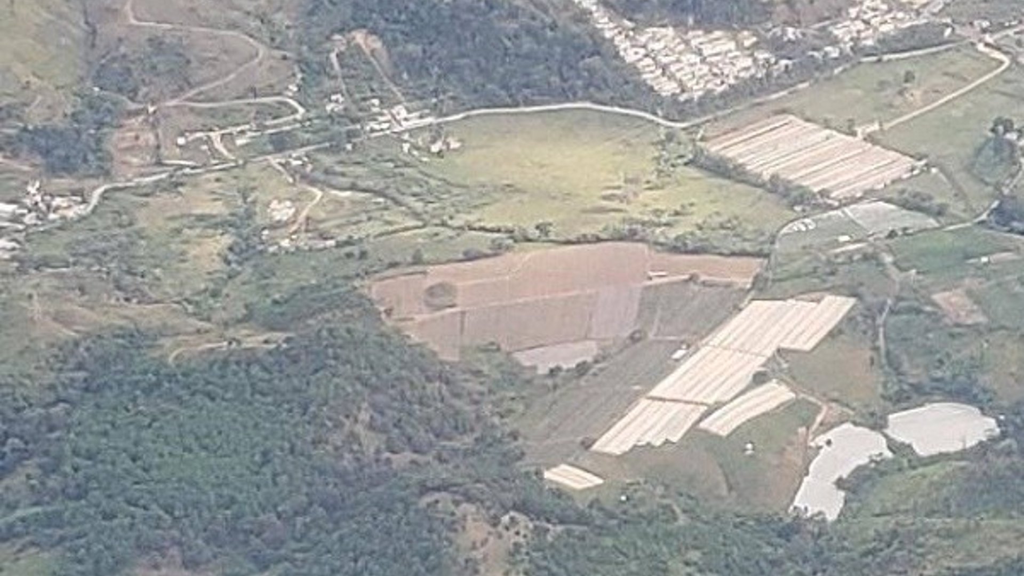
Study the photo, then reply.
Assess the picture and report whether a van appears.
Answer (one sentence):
No, the picture doesn't show any van.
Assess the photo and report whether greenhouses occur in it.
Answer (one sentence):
Yes, the photo shows a greenhouse.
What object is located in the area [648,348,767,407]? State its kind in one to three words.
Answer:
greenhouse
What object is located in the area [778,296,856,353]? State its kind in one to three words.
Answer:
greenhouse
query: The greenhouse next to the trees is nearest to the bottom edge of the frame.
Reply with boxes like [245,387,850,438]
[545,464,604,487]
